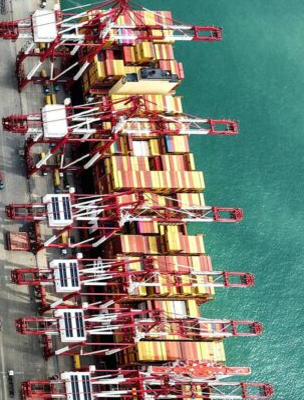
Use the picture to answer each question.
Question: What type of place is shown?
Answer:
port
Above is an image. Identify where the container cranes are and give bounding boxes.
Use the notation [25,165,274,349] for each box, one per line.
[8,252,258,323]
[2,188,245,265]
[13,301,267,369]
[0,97,244,184]
[19,358,279,400]
[0,0,226,95]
